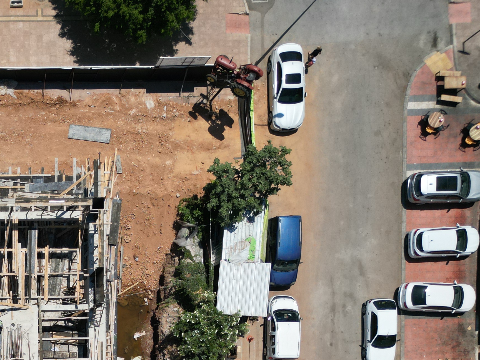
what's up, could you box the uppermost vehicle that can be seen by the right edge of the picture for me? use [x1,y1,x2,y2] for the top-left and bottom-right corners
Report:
[401,165,480,208]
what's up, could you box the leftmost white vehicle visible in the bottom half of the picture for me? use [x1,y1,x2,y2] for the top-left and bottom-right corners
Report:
[262,295,307,360]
